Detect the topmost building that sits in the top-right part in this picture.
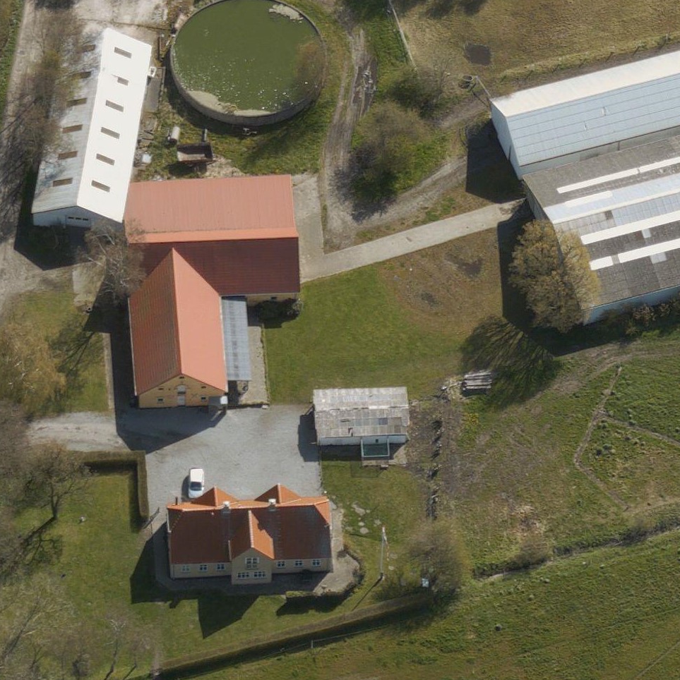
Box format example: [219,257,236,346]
[489,52,680,181]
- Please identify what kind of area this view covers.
industrial area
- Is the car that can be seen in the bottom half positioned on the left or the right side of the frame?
left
